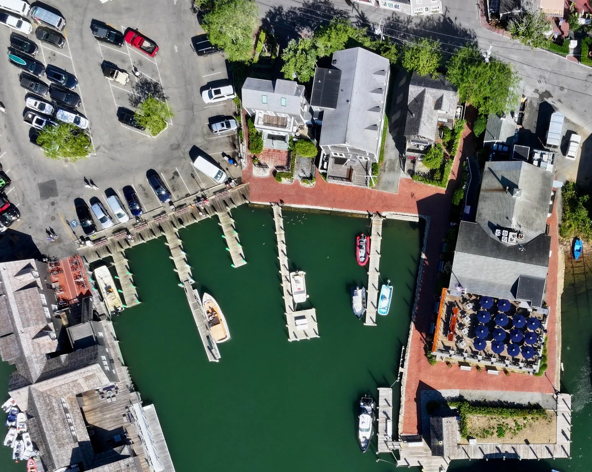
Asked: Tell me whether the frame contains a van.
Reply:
Yes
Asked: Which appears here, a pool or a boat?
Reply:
boat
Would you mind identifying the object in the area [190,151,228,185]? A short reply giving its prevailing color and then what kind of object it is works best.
white van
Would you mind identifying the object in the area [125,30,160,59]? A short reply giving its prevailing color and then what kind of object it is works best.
red truck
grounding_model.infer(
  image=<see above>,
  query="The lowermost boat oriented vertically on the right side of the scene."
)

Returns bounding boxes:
[357,395,375,453]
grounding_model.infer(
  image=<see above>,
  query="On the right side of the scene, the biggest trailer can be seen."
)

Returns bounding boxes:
[543,110,566,154]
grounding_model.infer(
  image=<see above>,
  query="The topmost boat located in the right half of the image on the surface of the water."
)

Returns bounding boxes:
[355,231,369,266]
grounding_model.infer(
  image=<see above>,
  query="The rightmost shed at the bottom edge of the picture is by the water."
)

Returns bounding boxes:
[430,417,458,457]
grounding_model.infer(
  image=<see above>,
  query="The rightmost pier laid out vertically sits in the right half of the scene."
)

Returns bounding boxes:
[363,213,386,327]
